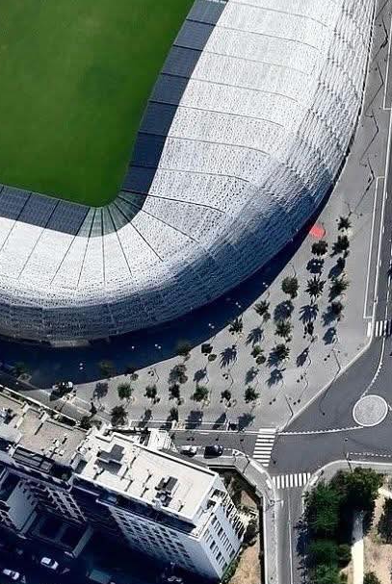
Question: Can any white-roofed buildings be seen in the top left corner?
No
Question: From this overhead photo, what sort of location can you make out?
sports ground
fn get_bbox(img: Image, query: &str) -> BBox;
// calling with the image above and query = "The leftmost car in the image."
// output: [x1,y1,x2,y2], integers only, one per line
[2,569,20,582]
